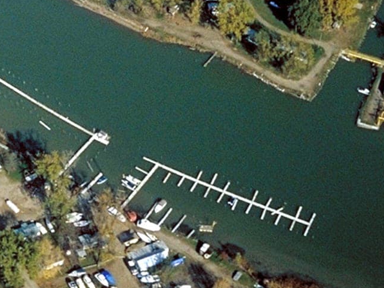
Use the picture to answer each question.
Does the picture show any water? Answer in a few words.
Yes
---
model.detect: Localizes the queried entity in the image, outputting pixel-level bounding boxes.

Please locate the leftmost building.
[13,221,48,240]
